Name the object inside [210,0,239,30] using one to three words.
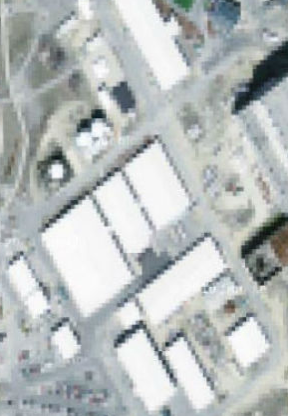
building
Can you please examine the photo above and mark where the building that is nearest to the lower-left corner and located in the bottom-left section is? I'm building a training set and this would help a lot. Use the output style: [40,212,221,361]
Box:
[52,323,80,360]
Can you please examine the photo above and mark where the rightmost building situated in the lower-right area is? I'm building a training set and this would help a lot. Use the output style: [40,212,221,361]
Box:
[227,317,271,369]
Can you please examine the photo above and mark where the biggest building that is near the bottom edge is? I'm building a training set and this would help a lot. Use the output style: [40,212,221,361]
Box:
[116,330,177,412]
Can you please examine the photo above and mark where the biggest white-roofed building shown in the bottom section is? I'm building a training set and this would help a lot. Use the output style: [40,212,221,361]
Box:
[40,196,135,319]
